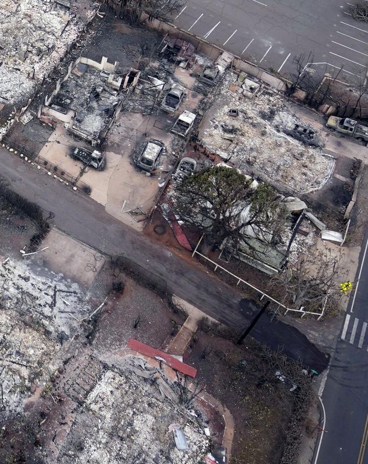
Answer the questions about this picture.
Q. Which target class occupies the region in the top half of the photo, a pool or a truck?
truck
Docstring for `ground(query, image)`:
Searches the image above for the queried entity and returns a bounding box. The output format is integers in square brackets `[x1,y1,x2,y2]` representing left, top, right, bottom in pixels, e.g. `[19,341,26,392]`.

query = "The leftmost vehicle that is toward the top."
[62,140,115,174]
